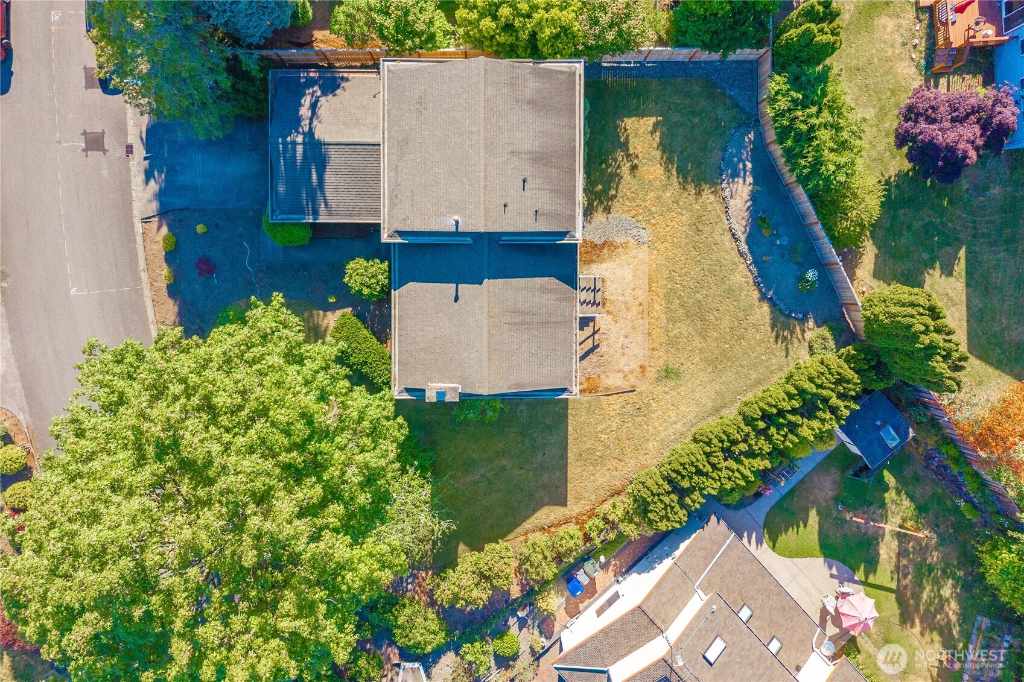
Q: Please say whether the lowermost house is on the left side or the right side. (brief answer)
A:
right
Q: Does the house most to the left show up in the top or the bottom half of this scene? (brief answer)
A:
top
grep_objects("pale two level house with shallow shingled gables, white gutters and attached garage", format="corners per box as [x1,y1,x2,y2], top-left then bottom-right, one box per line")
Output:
[269,58,585,401]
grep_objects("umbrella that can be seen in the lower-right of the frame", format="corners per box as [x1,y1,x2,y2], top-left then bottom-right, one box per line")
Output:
[837,593,878,632]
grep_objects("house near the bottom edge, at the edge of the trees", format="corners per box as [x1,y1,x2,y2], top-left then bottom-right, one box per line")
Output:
[549,510,872,682]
